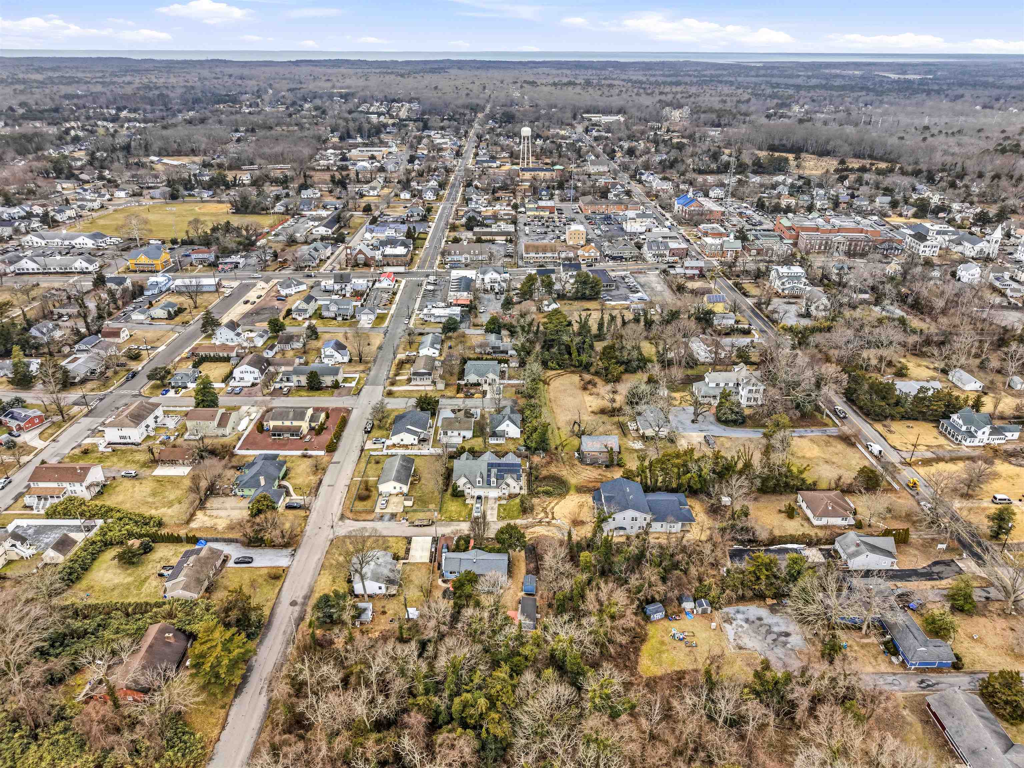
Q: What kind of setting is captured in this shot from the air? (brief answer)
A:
residential area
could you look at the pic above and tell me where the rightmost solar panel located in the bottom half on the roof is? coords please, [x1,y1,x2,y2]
[490,462,519,477]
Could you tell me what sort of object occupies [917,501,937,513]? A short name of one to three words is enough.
vehicle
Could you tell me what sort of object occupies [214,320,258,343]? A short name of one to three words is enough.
house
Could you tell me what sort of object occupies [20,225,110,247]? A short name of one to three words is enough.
building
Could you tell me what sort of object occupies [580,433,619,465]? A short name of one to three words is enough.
barn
